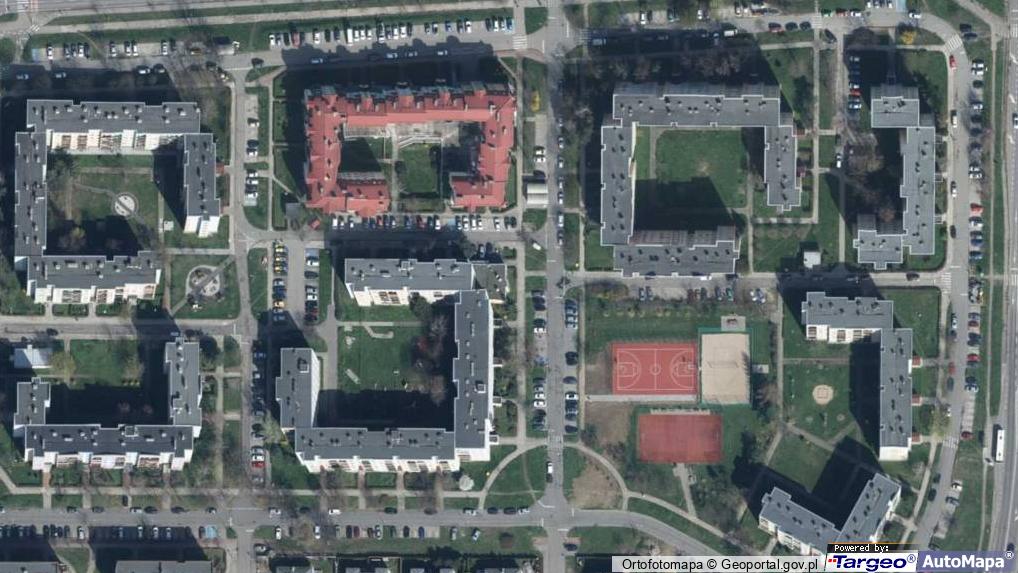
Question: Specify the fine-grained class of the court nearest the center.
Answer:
basketball court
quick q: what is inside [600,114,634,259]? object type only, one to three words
building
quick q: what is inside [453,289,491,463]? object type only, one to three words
building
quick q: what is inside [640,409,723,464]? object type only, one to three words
sports court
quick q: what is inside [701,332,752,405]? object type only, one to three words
sports court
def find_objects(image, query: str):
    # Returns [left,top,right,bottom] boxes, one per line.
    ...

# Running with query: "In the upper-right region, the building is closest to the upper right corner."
[870,86,933,142]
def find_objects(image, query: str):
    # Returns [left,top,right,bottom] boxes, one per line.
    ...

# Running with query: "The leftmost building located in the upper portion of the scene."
[15,132,54,268]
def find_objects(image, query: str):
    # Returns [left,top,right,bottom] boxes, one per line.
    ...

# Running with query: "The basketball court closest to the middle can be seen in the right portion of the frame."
[612,343,697,395]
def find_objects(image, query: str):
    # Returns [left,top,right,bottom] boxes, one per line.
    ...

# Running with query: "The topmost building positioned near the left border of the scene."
[27,98,206,151]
